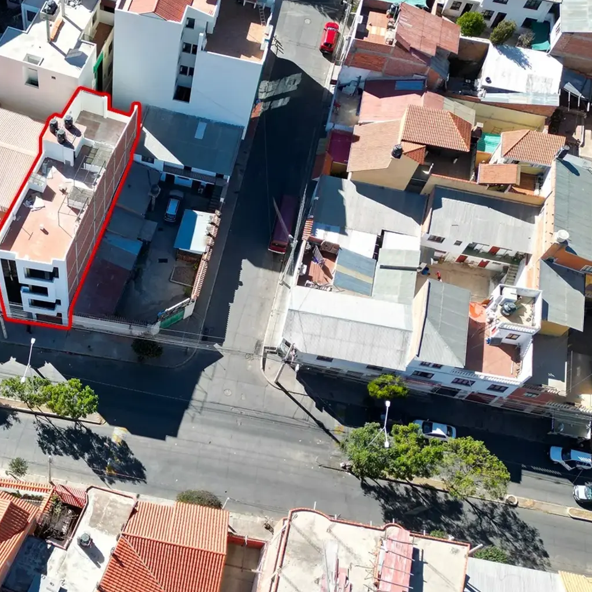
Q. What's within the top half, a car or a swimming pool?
car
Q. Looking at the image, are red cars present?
Yes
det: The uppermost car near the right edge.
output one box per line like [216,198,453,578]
[548,446,592,475]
